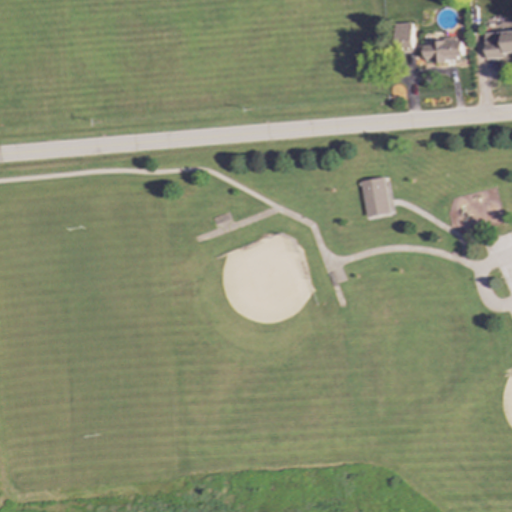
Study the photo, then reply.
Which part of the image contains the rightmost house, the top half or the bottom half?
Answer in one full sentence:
The rightmost house sits in the top half of the picture.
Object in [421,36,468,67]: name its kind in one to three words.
house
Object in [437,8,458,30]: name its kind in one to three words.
swimming pool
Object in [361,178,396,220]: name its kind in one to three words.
building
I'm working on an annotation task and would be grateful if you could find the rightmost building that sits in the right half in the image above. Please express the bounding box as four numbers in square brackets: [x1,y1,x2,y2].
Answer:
[484,32,512,60]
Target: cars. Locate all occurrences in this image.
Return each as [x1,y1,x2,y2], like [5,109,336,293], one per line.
[413,84,418,96]
[454,70,460,83]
